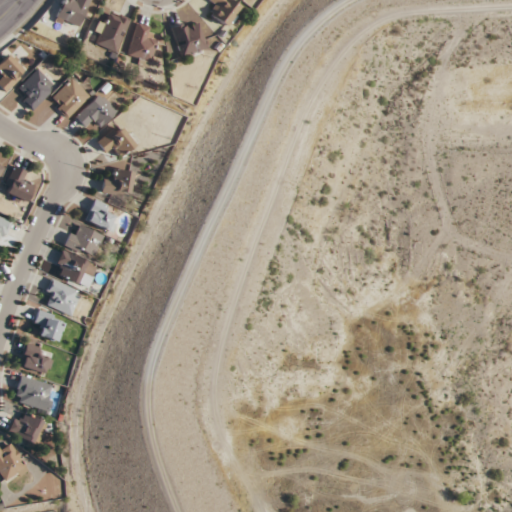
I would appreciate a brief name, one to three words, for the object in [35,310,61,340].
house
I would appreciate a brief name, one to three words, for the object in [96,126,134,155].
house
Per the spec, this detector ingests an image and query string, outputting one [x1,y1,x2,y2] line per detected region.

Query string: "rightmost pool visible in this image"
[118,212,131,236]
